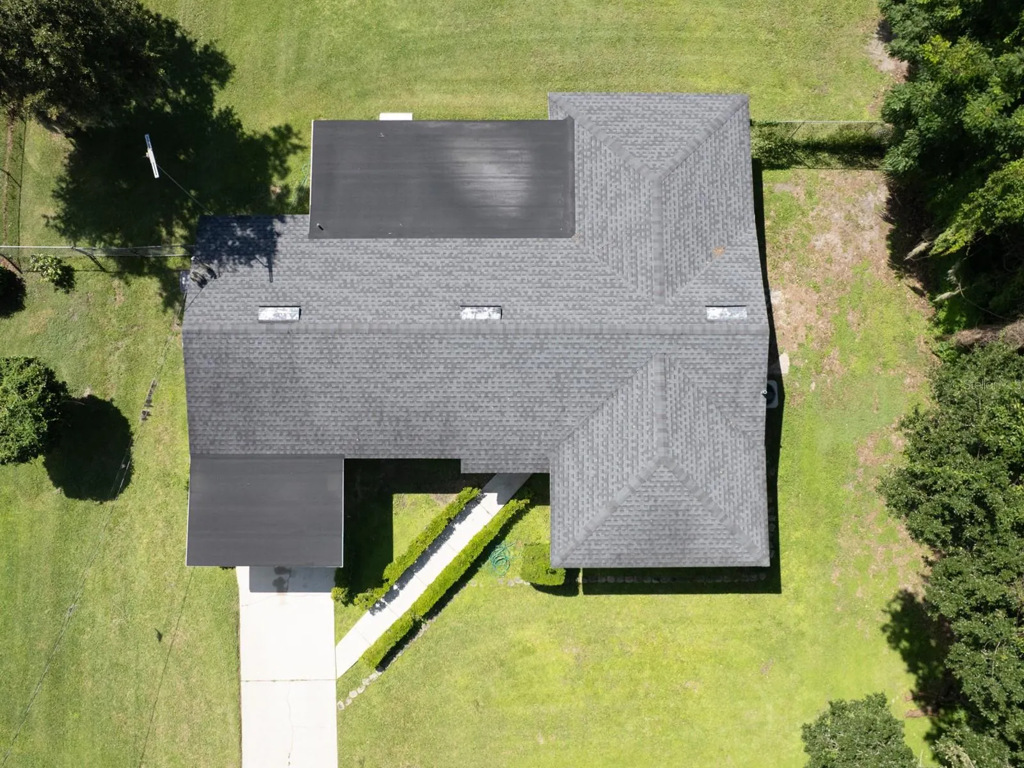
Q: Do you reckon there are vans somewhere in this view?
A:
No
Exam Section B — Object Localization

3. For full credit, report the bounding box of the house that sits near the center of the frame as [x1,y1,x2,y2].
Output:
[182,92,770,569]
